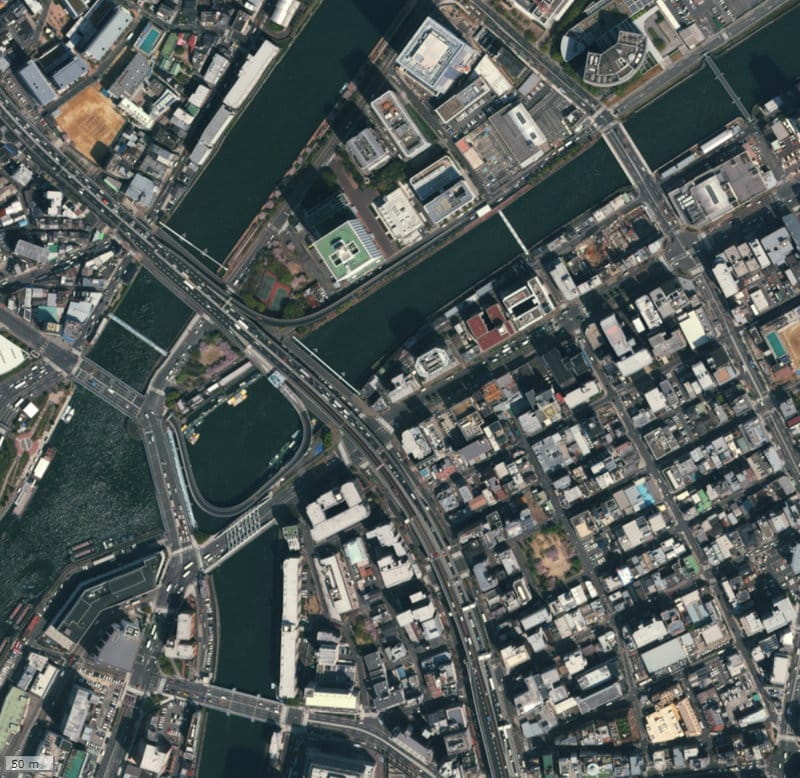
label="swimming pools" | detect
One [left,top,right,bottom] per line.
[765,329,788,360]
[134,23,167,56]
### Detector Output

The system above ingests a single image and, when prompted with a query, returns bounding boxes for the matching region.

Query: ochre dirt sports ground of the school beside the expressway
[58,83,125,164]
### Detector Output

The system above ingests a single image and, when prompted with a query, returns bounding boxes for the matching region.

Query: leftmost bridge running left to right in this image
[159,676,295,726]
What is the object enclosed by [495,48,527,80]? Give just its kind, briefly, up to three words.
house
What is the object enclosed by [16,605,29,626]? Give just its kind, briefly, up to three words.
ship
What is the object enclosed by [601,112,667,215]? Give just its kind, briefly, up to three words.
bridge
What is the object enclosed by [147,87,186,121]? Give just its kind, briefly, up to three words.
building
